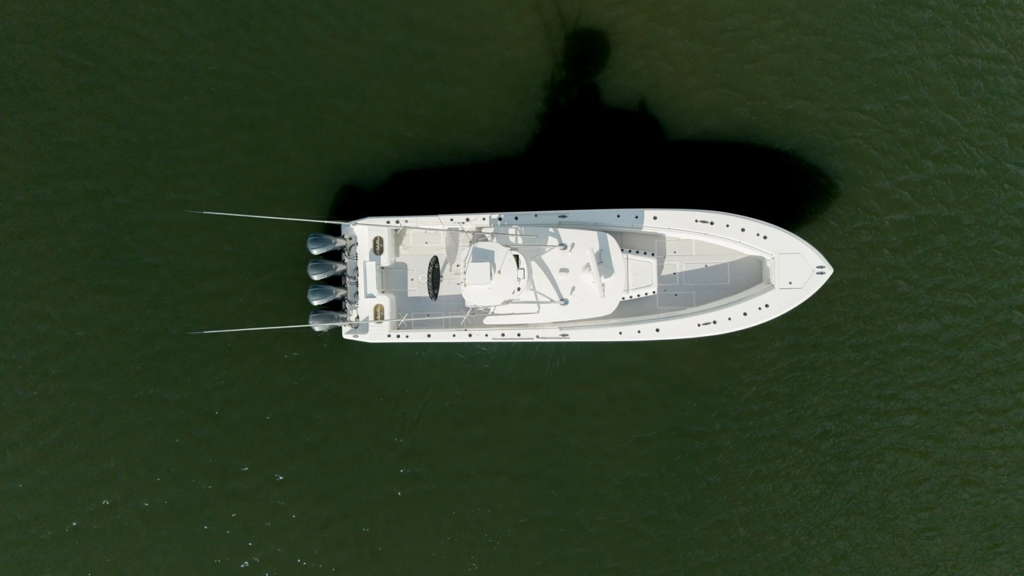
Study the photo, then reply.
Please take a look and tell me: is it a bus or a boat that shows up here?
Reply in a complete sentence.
This aerial view contains a boat.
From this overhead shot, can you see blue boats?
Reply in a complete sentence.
No, I find no blue boat anywhere in the image.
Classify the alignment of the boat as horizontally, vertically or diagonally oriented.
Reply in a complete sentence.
The boat is laid out horizontally.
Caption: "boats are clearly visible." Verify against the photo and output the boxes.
[189,208,834,343]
